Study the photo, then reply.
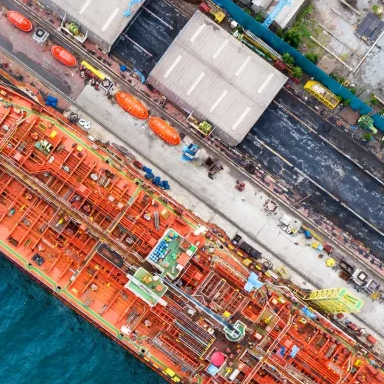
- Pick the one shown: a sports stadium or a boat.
boat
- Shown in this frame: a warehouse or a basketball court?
warehouse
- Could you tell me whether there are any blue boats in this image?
No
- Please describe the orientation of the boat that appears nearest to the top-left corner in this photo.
at an angle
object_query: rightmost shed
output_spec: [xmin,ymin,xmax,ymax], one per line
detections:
[354,10,384,45]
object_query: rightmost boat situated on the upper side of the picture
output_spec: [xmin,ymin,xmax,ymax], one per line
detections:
[148,117,181,146]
